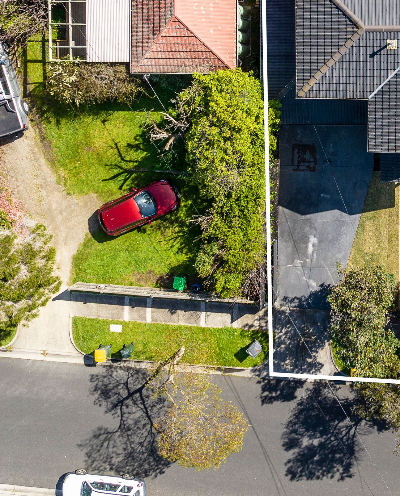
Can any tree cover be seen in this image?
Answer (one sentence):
Yes, tree cover can be seen from above here.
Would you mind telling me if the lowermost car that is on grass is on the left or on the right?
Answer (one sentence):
The lowermost car that is on grass appears in the left half of the scene.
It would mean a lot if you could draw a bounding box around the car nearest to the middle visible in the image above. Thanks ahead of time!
[92,176,187,238]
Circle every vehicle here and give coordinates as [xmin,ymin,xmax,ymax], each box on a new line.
[0,36,31,140]
[92,176,187,238]
[61,467,148,496]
